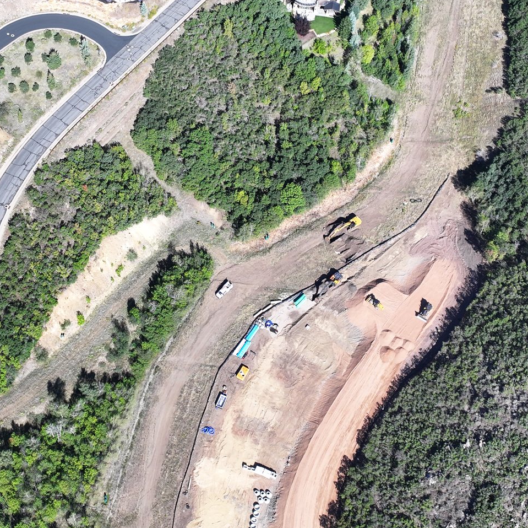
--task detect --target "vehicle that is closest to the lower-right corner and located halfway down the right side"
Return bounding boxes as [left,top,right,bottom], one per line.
[416,302,432,321]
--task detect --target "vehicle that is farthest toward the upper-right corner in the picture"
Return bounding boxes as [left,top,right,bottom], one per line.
[328,211,367,239]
